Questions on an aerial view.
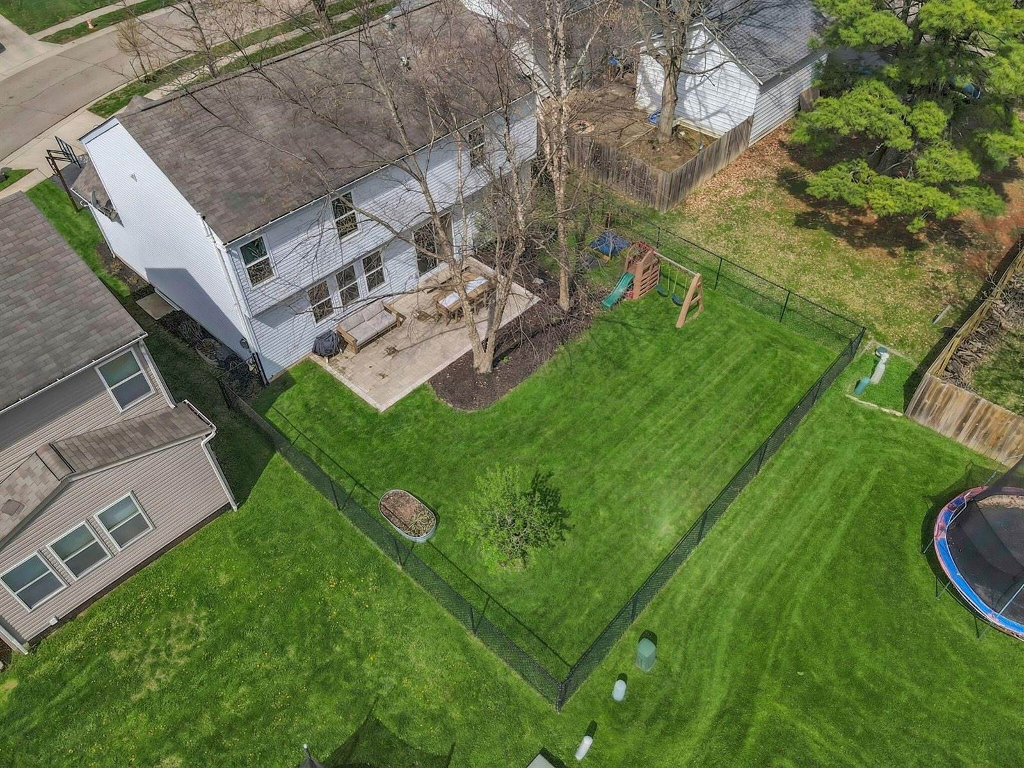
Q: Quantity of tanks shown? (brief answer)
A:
one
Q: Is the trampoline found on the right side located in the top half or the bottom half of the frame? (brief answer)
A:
bottom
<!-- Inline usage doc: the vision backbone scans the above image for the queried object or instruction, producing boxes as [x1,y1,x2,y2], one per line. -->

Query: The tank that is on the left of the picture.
[377,489,439,551]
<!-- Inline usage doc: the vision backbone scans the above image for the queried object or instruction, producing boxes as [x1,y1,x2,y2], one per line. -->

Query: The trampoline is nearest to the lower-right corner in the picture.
[923,451,1024,646]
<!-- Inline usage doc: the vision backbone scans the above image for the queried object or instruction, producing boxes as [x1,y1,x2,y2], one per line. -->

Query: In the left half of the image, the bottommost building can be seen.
[0,197,243,665]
